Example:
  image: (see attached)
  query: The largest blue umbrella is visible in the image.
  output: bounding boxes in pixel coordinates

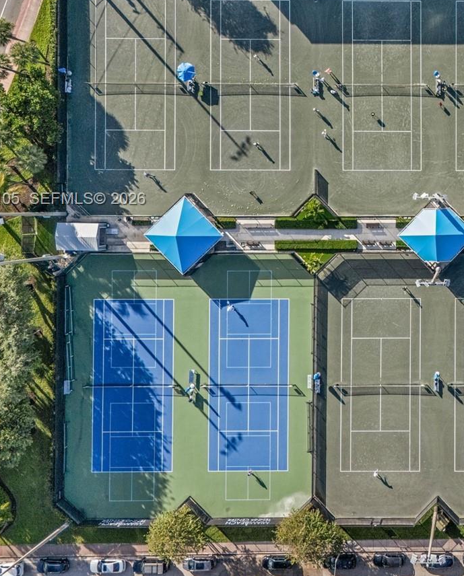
[176,62,197,82]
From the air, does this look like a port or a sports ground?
sports ground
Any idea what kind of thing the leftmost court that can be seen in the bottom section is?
tennis court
